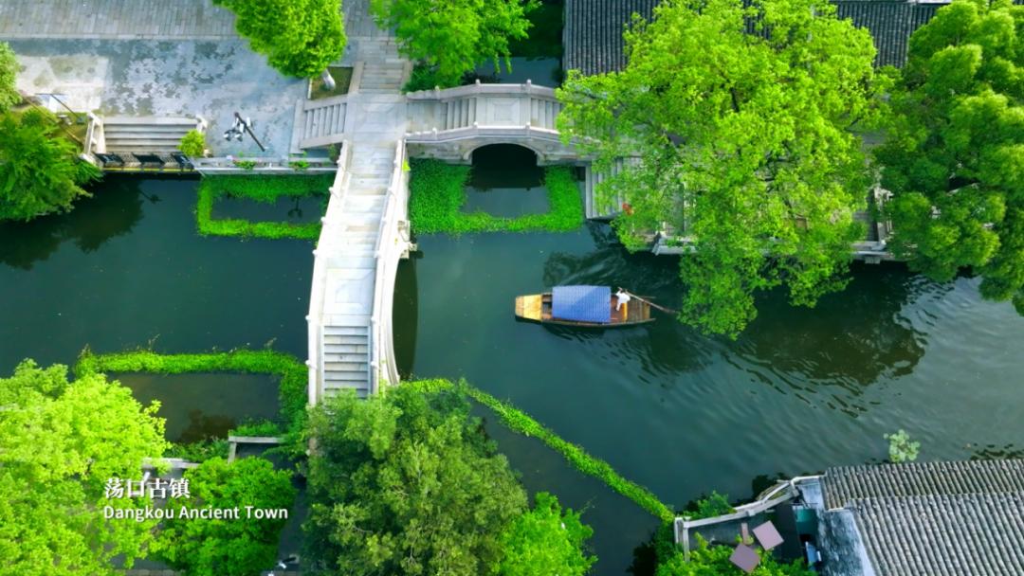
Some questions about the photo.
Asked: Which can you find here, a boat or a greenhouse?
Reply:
boat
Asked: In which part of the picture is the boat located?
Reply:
center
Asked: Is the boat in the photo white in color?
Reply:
No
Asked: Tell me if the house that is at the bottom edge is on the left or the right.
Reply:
right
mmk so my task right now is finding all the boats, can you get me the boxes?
[516,283,661,325]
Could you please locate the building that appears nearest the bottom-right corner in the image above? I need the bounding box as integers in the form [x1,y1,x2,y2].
[820,459,1024,576]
